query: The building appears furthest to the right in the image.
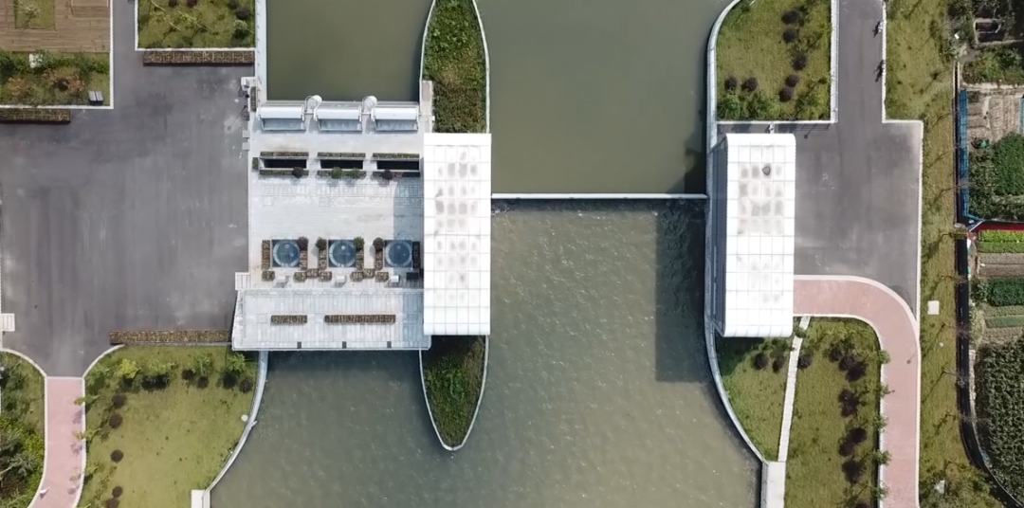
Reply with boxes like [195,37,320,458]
[713,133,793,335]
